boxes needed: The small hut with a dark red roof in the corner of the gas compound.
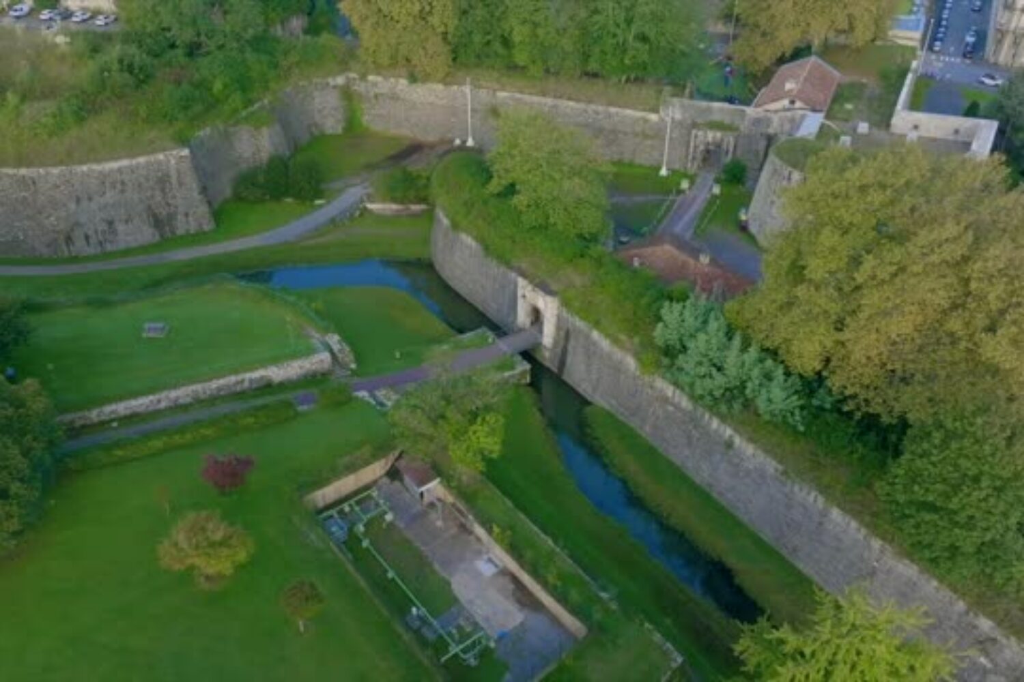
[396,456,442,505]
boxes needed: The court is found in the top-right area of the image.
[888,0,927,48]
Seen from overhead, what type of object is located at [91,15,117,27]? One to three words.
vehicle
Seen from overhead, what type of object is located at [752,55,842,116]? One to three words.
house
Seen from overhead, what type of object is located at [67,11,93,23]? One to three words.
vehicle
